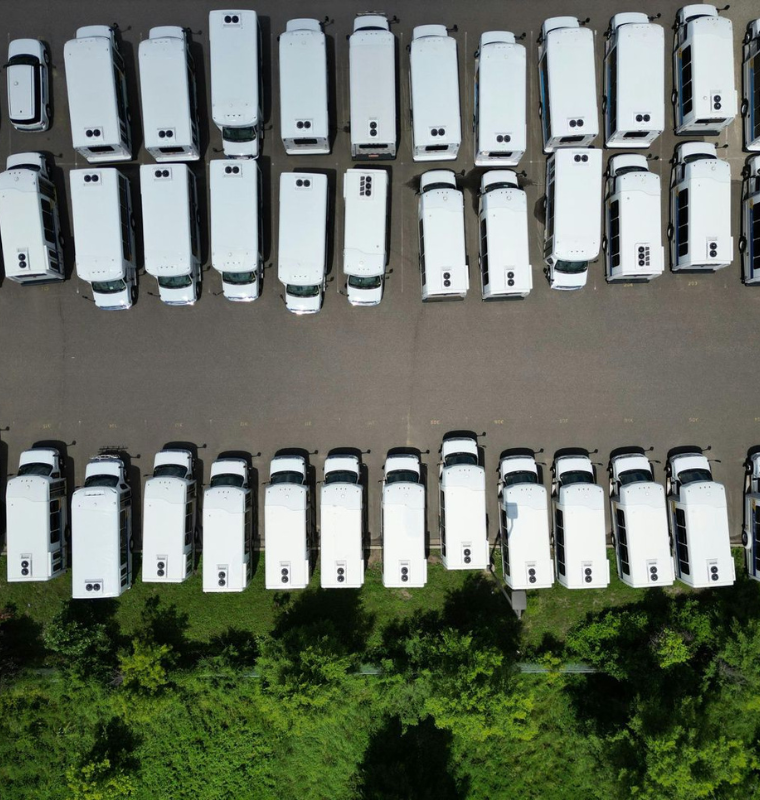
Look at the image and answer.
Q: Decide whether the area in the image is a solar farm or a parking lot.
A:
parking lot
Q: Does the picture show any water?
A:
No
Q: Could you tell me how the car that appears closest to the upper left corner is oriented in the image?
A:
from top to bottom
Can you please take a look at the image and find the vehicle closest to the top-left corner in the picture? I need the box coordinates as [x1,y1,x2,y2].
[2,40,53,133]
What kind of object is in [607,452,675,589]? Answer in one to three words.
vehicle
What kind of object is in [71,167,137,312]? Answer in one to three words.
vehicle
